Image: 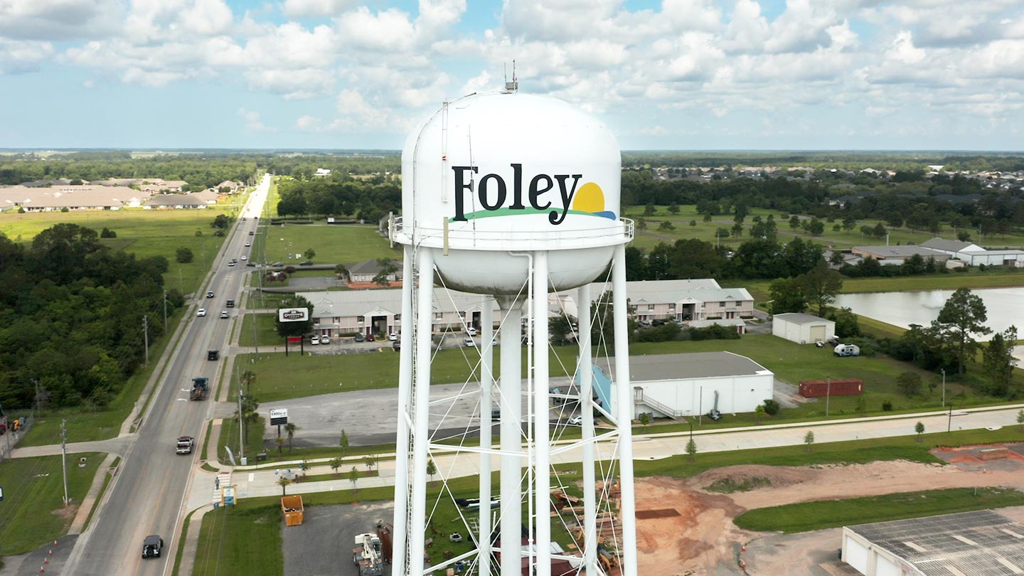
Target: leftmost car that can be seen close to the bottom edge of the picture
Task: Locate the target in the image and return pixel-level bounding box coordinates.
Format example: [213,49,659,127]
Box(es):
[140,536,160,556]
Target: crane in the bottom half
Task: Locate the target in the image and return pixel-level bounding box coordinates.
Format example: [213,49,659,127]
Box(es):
[352,530,387,576]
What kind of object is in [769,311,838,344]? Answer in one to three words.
shed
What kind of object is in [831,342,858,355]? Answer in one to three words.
vehicle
